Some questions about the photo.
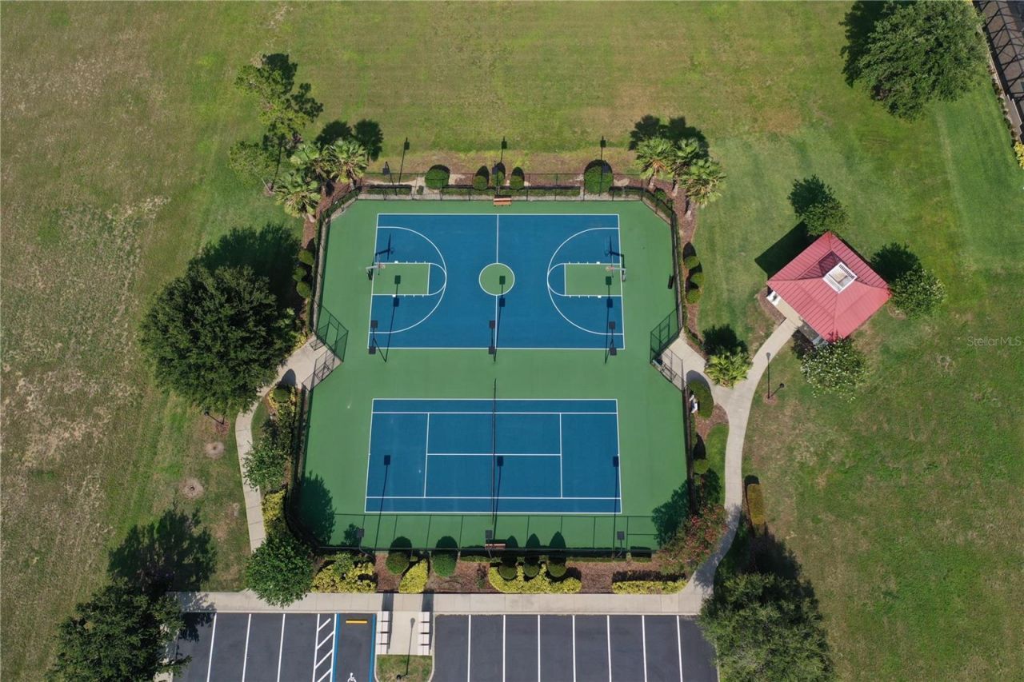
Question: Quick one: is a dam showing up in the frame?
No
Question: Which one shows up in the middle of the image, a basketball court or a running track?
basketball court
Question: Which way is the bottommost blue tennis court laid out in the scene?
from left to right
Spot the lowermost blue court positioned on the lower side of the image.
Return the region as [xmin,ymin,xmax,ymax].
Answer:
[365,398,622,514]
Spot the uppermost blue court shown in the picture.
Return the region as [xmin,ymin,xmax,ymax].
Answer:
[368,213,625,349]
